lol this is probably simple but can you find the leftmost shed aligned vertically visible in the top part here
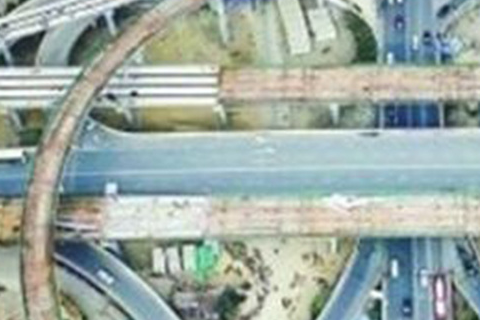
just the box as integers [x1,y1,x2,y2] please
[279,0,310,61]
